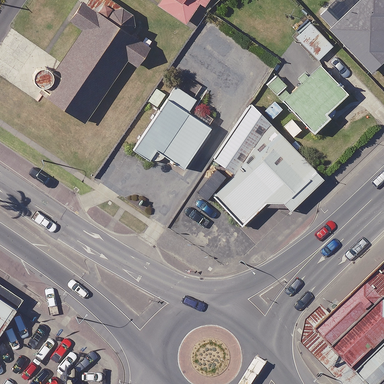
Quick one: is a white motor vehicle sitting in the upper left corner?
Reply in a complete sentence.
No, looking in the upper left corner, there is no white motor vehicle.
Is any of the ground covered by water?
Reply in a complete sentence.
No, the picture contains no water.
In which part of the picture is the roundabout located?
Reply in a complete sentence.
Look in the bottom portion of the view to spot the roundabout.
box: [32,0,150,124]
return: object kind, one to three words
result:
building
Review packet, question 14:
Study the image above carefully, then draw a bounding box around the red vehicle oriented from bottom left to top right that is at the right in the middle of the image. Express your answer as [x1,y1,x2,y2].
[312,220,338,243]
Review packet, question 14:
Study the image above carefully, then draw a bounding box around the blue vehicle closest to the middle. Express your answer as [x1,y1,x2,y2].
[196,198,222,220]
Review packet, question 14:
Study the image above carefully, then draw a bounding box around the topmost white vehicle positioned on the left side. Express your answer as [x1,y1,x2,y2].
[30,208,59,233]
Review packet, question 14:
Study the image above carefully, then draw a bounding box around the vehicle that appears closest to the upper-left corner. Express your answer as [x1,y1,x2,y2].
[28,166,58,188]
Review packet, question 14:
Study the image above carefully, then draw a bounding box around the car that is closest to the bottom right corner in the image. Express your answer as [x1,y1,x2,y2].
[294,290,316,312]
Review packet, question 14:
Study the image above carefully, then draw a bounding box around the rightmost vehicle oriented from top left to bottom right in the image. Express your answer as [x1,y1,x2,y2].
[330,56,351,78]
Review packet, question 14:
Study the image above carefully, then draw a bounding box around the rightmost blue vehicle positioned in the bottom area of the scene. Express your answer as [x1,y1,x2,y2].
[320,236,343,258]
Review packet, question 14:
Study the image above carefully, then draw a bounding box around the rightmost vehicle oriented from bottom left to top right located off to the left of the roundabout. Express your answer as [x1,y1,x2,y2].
[74,351,100,375]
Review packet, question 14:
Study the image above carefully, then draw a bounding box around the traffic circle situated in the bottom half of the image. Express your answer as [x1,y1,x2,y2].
[178,325,242,384]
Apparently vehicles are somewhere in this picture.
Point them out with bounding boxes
[82,372,102,383]
[74,351,100,375]
[284,276,306,297]
[320,236,343,258]
[372,170,384,189]
[0,341,12,362]
[30,368,52,384]
[28,166,58,188]
[238,356,268,384]
[45,288,58,315]
[184,206,214,230]
[330,56,351,78]
[344,236,373,262]
[30,208,59,233]
[49,338,72,363]
[6,329,20,350]
[3,377,15,384]
[12,354,29,374]
[20,358,42,380]
[67,278,92,300]
[294,290,316,312]
[180,295,208,312]
[13,316,28,338]
[312,220,338,243]
[27,324,48,348]
[196,198,222,220]
[34,338,54,362]
[56,352,78,375]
